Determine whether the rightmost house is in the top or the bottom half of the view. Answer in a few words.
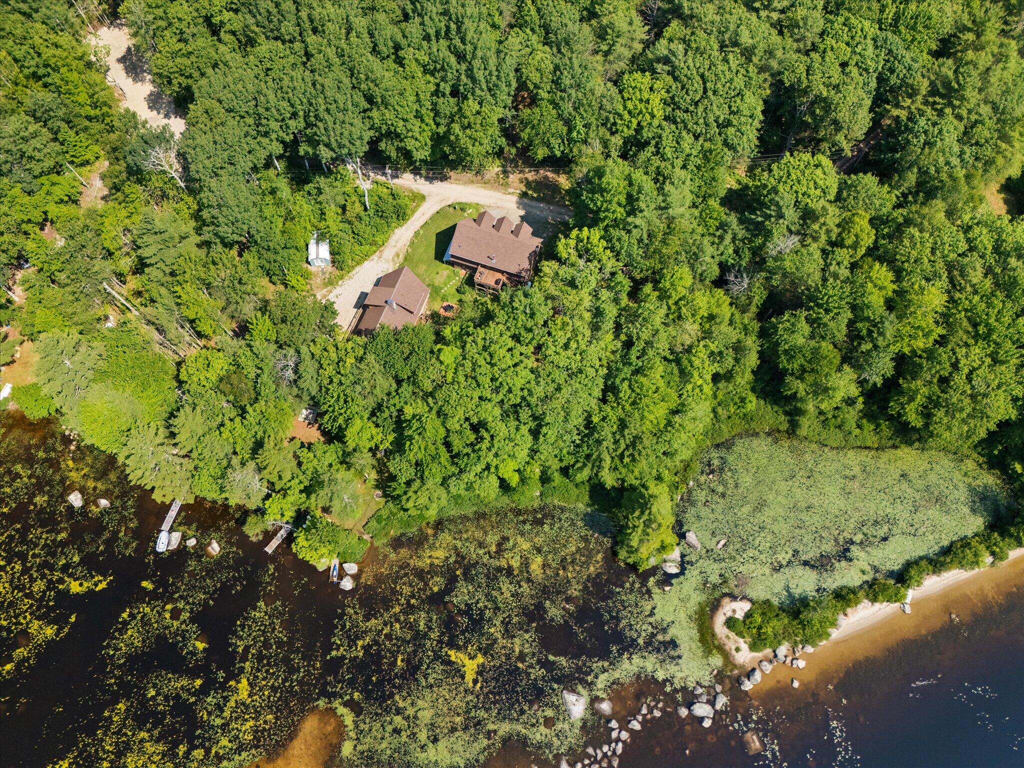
top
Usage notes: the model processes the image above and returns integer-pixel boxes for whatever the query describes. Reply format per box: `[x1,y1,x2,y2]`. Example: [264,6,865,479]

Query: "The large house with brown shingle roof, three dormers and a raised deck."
[443,211,543,295]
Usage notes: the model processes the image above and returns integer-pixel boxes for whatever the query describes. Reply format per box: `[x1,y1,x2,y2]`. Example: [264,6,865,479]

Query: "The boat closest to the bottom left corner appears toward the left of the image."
[154,529,168,554]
